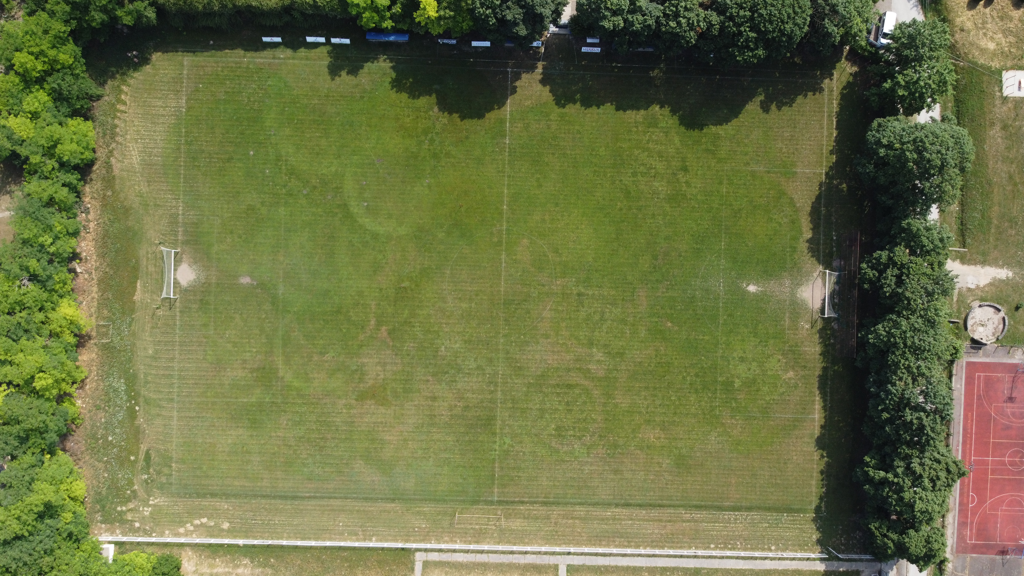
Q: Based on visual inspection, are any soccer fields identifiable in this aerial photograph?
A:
Yes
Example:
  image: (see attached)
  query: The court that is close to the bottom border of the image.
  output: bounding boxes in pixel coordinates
[943,346,1024,576]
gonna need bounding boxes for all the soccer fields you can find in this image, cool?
[142,42,836,520]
